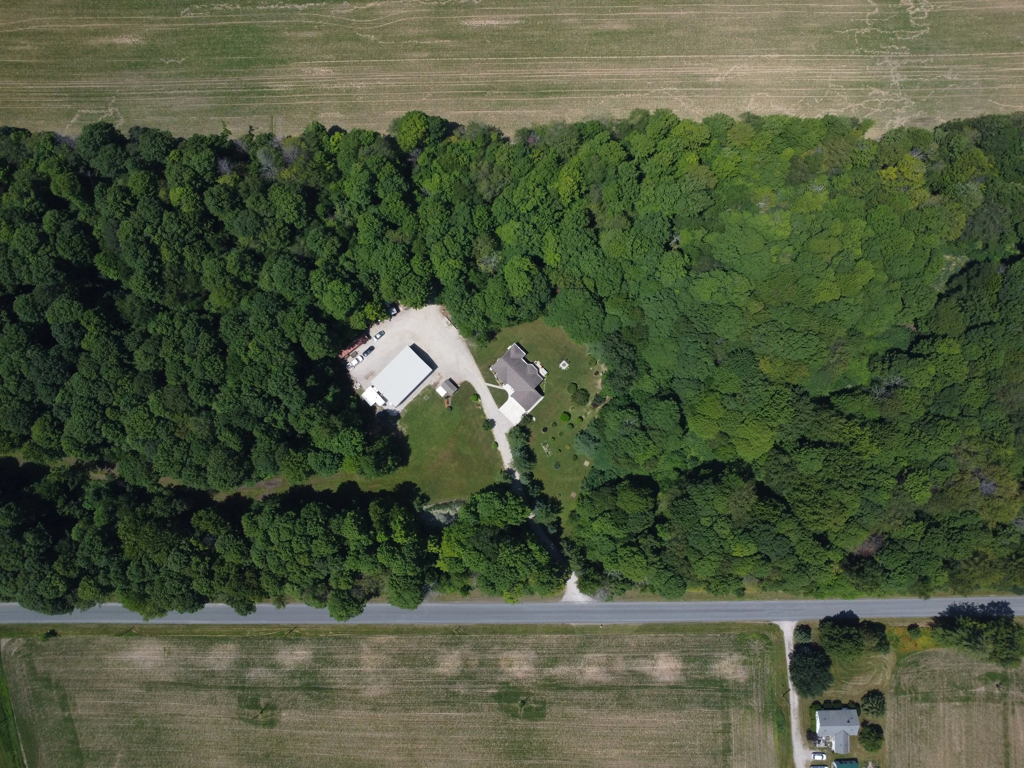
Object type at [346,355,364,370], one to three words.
vehicle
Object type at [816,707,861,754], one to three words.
house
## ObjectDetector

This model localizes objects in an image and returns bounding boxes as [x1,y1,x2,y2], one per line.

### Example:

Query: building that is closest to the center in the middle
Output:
[490,343,544,412]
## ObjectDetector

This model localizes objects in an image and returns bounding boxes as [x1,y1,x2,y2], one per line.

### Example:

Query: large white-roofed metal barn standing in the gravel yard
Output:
[371,346,433,407]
